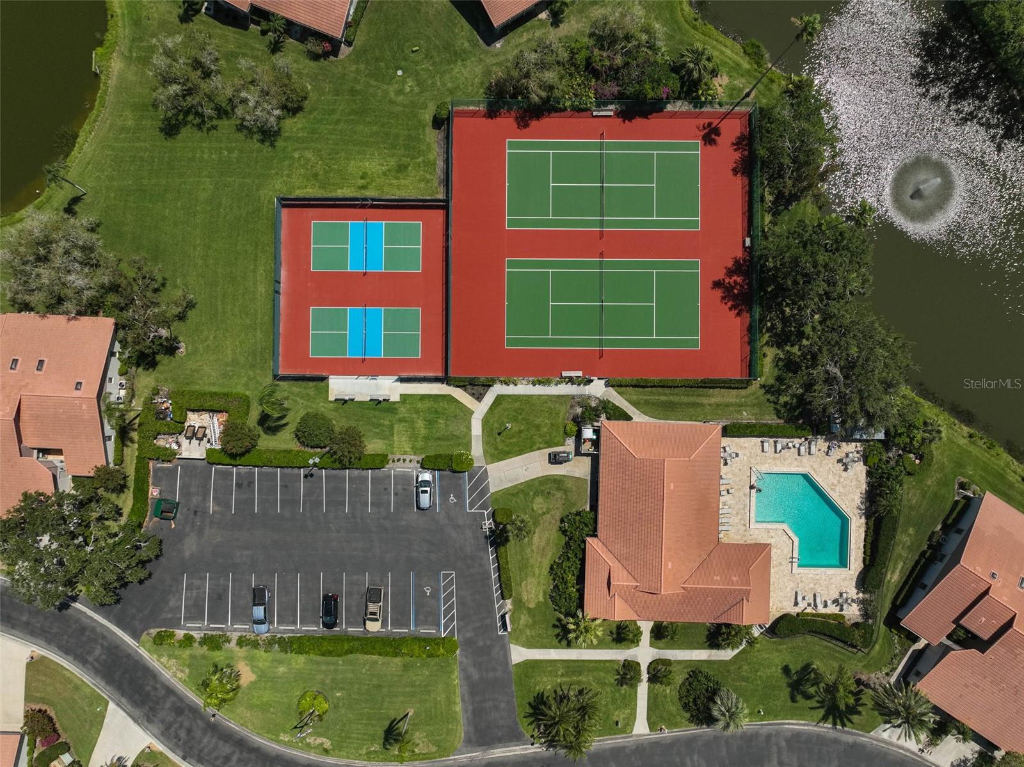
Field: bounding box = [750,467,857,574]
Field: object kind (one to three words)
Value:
swimming pool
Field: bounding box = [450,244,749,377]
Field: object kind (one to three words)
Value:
tennis court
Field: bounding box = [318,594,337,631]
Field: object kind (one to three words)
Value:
car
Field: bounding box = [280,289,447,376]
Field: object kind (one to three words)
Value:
sports court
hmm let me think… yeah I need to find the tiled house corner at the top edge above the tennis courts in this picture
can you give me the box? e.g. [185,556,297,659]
[468,0,564,39]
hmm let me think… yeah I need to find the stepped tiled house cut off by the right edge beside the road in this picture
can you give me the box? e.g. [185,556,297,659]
[895,491,1024,764]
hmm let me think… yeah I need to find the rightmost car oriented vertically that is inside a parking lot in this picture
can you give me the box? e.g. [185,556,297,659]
[413,472,432,511]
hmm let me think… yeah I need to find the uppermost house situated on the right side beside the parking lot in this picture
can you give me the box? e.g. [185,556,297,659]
[585,420,772,624]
